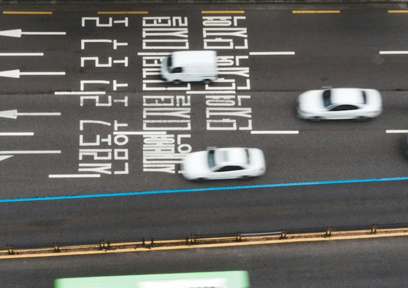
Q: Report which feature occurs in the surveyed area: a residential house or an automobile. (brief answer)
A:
automobile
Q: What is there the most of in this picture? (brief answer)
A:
paved ground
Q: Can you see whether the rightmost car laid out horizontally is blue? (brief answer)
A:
No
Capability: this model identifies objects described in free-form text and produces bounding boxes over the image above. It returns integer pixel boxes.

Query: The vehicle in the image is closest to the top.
[160,49,219,84]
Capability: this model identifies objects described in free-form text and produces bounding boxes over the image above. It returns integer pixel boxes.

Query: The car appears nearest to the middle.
[182,143,265,181]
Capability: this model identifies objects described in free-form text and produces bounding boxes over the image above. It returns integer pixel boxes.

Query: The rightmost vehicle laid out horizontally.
[299,83,382,120]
